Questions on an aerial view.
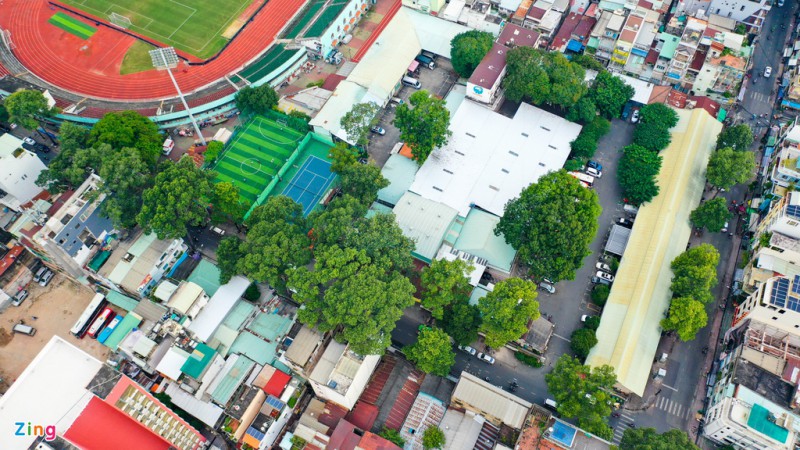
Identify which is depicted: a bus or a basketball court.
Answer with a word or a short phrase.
bus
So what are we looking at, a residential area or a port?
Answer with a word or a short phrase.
residential area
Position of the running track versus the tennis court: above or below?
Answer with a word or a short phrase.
above it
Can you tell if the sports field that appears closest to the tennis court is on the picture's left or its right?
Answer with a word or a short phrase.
left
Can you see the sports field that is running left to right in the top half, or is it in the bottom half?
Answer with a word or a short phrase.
top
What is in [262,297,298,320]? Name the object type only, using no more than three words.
house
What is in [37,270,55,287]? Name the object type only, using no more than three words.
car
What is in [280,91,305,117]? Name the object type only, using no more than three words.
shed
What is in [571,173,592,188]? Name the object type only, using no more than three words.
vehicle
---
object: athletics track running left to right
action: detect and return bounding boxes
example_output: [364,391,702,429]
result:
[3,0,308,100]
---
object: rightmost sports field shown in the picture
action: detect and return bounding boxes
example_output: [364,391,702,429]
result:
[195,116,309,215]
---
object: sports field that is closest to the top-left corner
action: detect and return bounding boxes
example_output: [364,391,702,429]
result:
[71,0,262,75]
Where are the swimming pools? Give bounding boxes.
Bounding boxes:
[545,417,577,449]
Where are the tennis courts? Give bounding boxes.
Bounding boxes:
[251,140,356,234]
